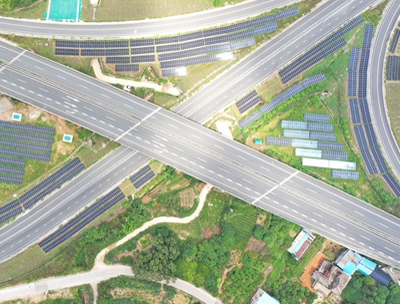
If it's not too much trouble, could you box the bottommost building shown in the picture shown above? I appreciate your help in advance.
[245,286,280,304]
